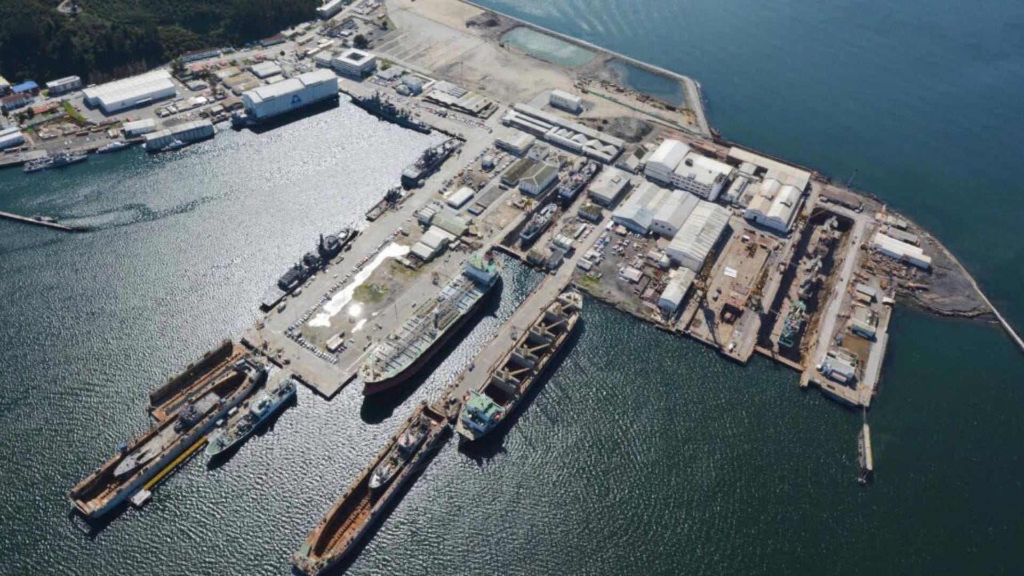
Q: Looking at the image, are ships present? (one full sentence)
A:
Yes, the picture does show a ship.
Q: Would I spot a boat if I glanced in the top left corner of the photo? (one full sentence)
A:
Yes, in the top left corner of the photo there is a boat.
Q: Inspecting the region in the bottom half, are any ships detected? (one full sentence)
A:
Yes, you'll find a ship in the bottom half.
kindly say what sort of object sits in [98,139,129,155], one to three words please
boat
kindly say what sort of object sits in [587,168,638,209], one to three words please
building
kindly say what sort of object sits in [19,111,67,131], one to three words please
shed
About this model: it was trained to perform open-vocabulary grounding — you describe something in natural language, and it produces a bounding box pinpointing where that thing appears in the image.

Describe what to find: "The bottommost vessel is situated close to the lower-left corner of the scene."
[130,489,155,510]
